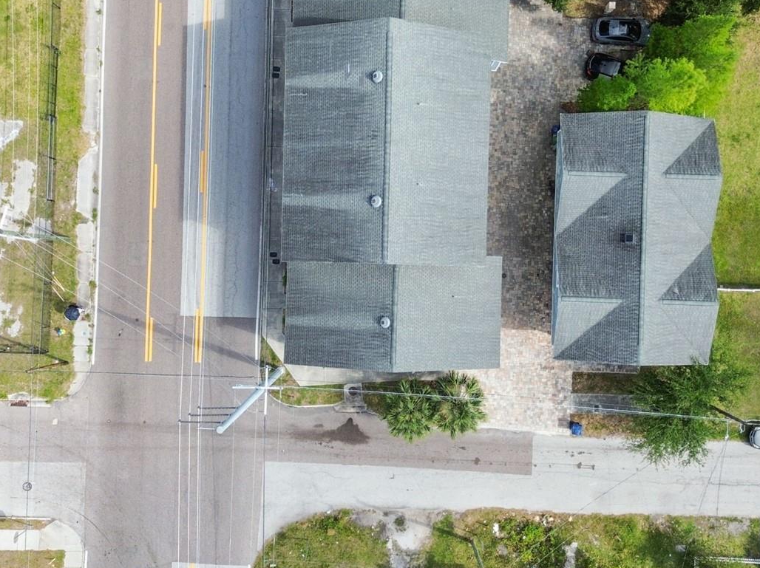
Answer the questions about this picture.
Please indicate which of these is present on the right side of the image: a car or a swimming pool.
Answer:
car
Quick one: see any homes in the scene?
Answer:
Yes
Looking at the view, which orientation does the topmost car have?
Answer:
from left to right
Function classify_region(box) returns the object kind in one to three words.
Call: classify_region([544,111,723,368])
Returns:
house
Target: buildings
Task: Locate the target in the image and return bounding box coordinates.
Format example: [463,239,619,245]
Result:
[281,0,509,374]
[544,111,723,368]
